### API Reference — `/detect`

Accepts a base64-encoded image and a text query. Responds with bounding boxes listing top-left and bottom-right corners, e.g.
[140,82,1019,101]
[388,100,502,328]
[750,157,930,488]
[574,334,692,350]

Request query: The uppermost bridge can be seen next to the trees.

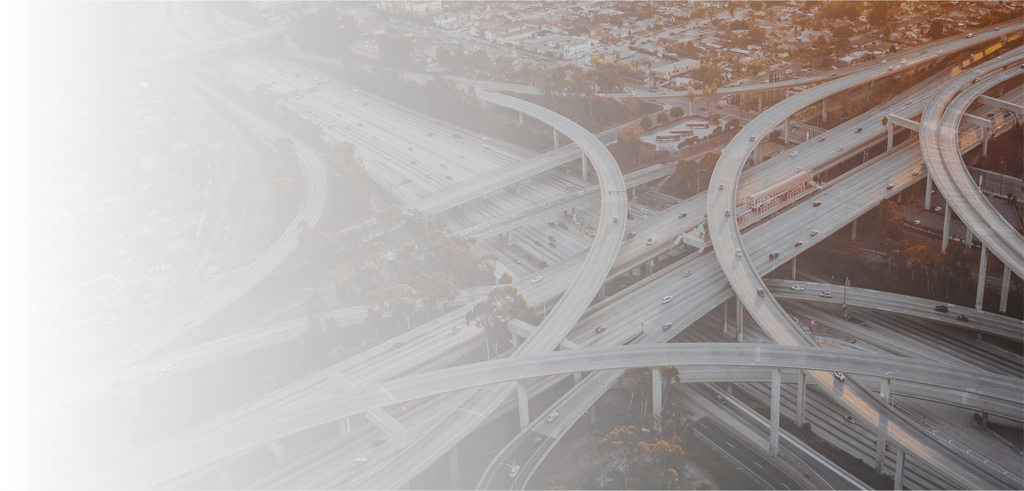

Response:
[0,23,310,103]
